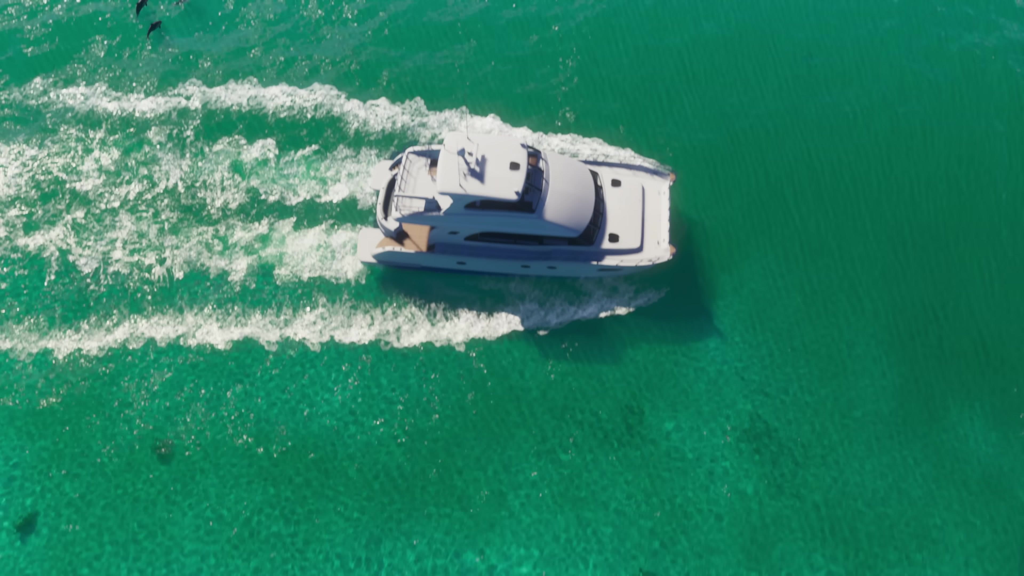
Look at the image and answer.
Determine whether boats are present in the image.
Yes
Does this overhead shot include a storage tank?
No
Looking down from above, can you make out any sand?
No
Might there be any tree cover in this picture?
No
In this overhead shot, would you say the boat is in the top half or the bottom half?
top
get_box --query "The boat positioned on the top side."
[356,110,677,276]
